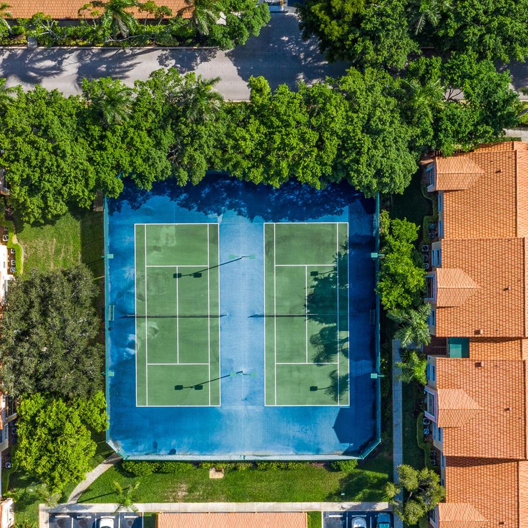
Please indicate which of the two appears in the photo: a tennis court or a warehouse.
tennis court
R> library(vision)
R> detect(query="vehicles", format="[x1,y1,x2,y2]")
[350,516,367,528]
[376,511,394,528]
[98,516,114,528]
